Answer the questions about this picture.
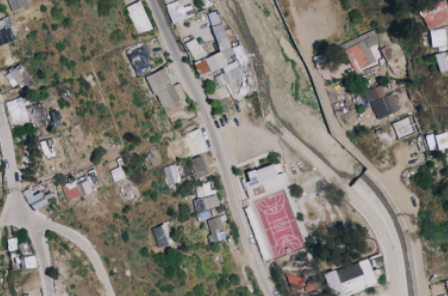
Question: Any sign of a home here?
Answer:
Yes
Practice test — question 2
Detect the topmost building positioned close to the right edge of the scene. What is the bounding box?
[422,1,448,29]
